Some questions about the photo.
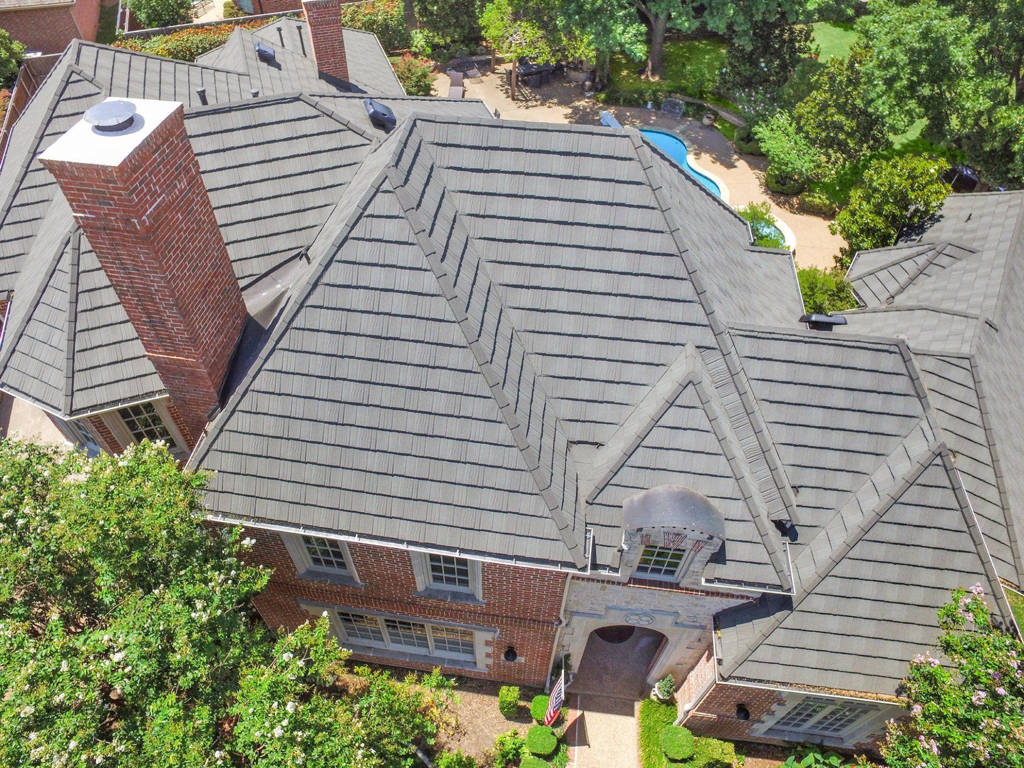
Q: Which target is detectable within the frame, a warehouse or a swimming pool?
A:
swimming pool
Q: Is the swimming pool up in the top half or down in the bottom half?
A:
top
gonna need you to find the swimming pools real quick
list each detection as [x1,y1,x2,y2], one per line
[639,130,714,190]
